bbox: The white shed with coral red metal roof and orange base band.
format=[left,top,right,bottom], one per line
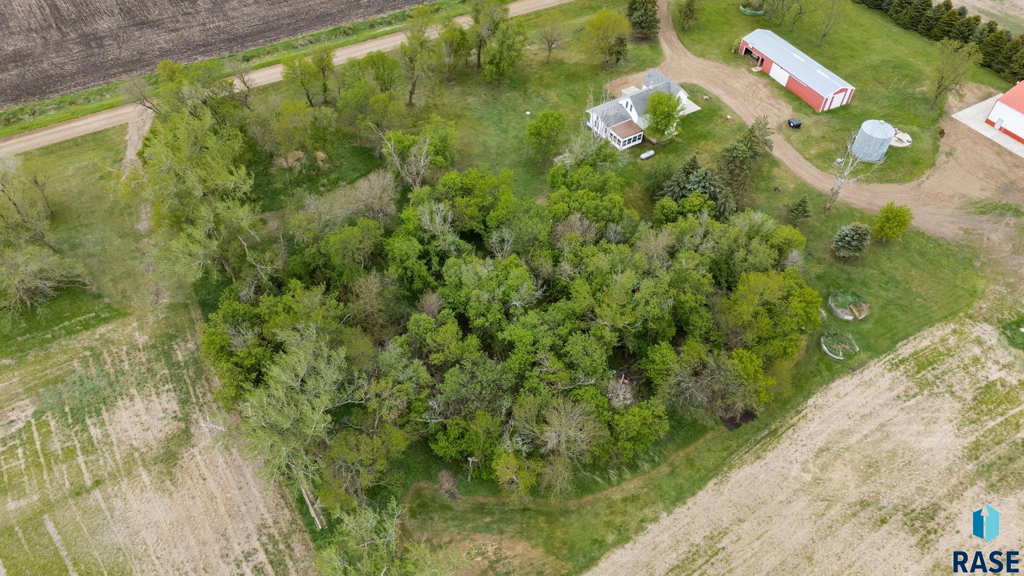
[985,81,1024,144]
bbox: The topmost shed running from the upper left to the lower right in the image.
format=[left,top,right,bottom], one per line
[739,29,856,111]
